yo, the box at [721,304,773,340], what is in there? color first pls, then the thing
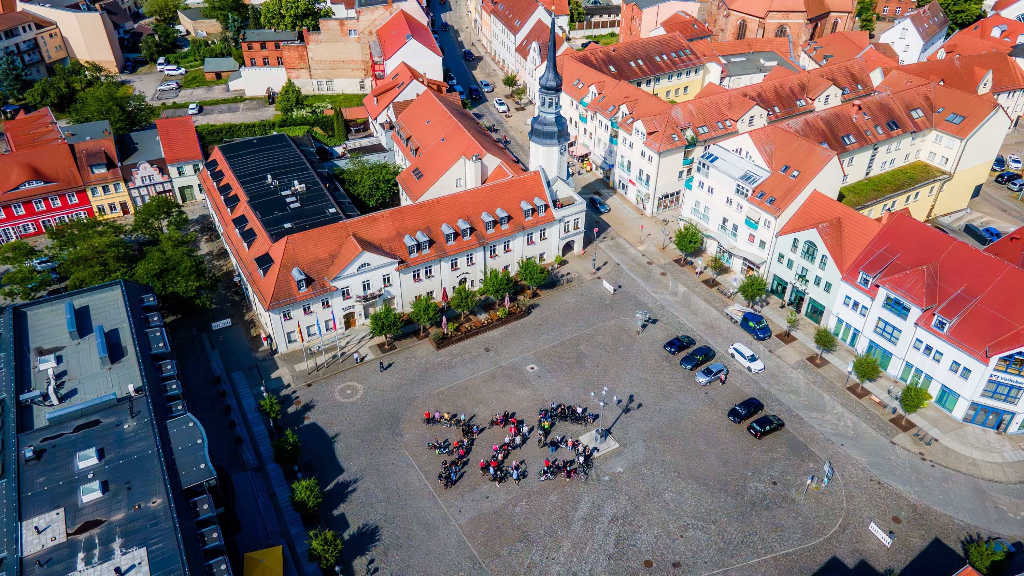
blue truck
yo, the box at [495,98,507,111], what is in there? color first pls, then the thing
white vehicle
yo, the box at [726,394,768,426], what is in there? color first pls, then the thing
black car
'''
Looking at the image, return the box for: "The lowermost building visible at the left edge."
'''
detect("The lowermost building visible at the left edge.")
[0,277,258,576]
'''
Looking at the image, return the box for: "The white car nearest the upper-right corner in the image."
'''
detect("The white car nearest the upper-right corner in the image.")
[1006,153,1023,170]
